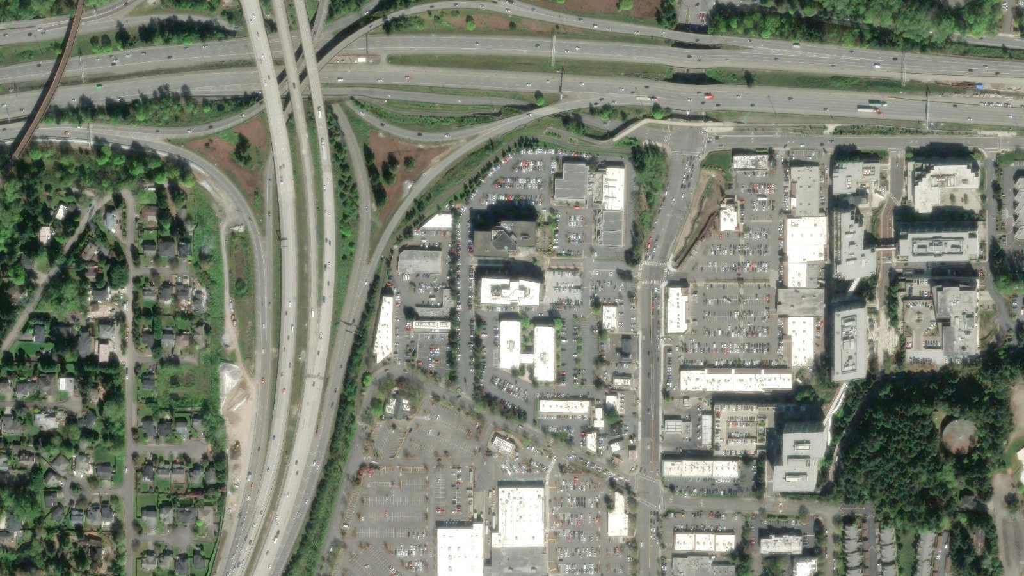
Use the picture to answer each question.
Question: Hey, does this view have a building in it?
Yes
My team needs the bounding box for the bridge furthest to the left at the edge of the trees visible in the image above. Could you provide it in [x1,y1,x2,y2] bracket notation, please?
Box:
[13,0,84,157]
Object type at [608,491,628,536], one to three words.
building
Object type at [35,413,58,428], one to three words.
house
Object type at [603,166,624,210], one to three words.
building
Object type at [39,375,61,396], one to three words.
house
